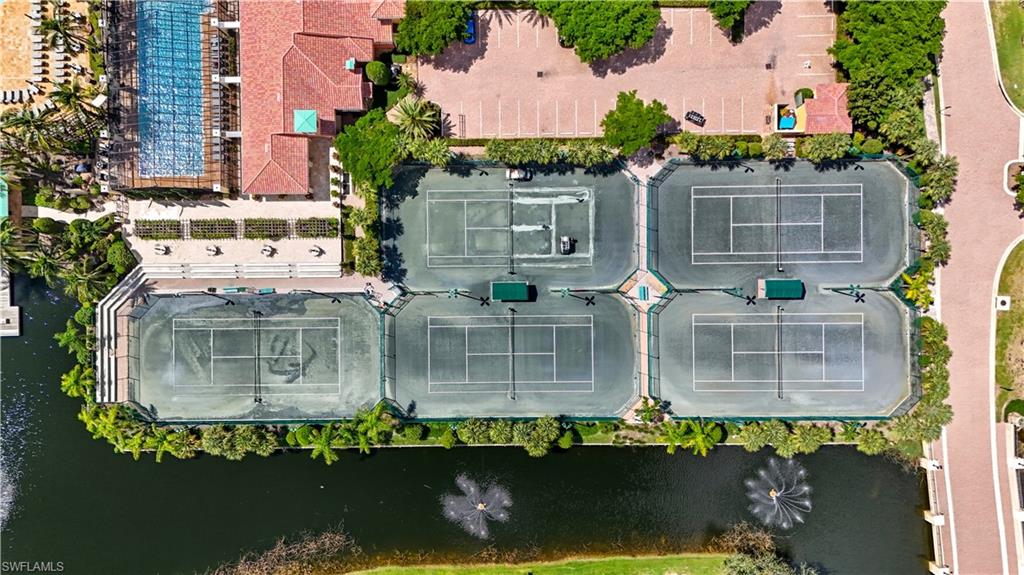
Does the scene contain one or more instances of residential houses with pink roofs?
Yes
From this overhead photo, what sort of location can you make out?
sports ground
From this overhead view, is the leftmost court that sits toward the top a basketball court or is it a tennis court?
tennis court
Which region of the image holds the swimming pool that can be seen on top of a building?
top left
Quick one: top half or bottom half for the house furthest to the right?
top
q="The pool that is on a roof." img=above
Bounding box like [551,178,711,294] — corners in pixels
[136,0,208,179]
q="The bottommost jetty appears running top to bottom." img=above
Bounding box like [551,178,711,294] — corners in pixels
[0,277,22,333]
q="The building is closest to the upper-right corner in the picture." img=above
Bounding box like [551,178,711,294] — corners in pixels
[792,82,853,136]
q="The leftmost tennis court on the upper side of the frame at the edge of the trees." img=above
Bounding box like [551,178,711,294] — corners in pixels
[380,163,638,292]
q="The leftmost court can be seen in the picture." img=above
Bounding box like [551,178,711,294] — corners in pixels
[128,293,377,419]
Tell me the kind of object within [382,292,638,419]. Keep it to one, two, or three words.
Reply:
tennis court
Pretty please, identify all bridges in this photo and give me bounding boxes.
[920,422,1024,575]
